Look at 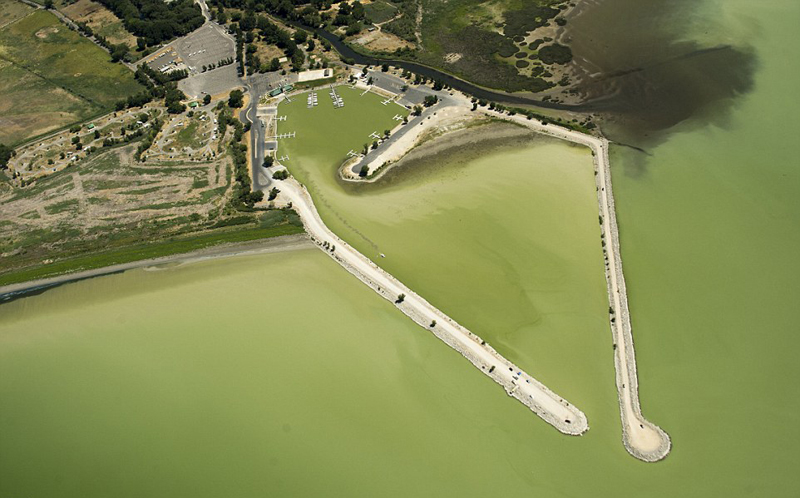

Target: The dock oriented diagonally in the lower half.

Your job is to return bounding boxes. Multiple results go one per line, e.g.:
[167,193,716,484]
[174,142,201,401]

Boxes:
[270,177,589,436]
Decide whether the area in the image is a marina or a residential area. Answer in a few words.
marina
